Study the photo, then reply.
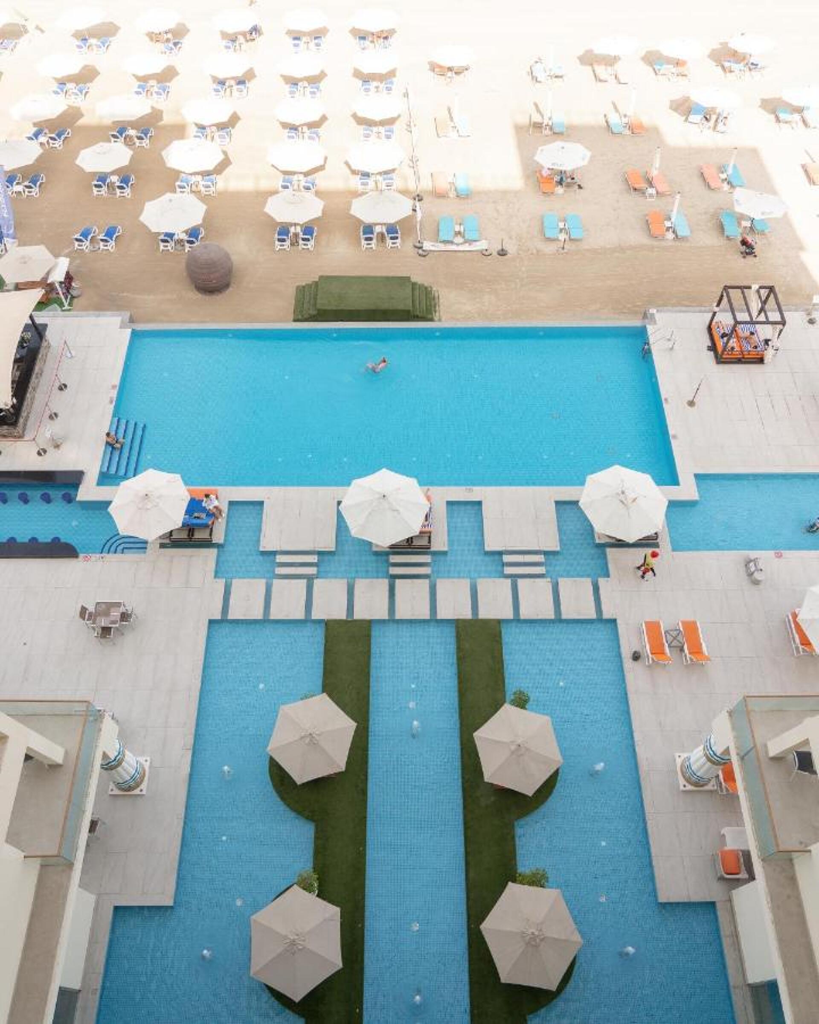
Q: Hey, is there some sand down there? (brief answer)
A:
Yes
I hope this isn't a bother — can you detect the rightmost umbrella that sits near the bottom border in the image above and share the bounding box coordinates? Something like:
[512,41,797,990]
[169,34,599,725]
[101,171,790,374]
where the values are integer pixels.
[478,887,584,990]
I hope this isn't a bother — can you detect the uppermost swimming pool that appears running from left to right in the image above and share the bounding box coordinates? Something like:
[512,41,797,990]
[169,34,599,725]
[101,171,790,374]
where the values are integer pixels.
[99,328,678,487]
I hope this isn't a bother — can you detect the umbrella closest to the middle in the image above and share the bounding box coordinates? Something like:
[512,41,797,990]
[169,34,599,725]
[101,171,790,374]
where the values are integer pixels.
[339,468,429,546]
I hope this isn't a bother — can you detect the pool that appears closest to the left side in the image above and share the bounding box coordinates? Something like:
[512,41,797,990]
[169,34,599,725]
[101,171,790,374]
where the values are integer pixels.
[0,471,151,554]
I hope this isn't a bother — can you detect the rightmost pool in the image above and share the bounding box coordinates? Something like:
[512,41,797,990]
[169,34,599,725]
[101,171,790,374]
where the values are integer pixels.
[660,474,819,551]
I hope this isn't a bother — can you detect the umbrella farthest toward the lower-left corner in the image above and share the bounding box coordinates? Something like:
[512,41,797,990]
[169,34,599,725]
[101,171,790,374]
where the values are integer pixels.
[247,887,344,1004]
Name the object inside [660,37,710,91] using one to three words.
umbrella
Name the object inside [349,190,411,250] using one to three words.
umbrella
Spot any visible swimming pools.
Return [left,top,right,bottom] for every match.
[0,471,151,554]
[98,501,734,1024]
[99,328,678,487]
[660,474,819,551]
